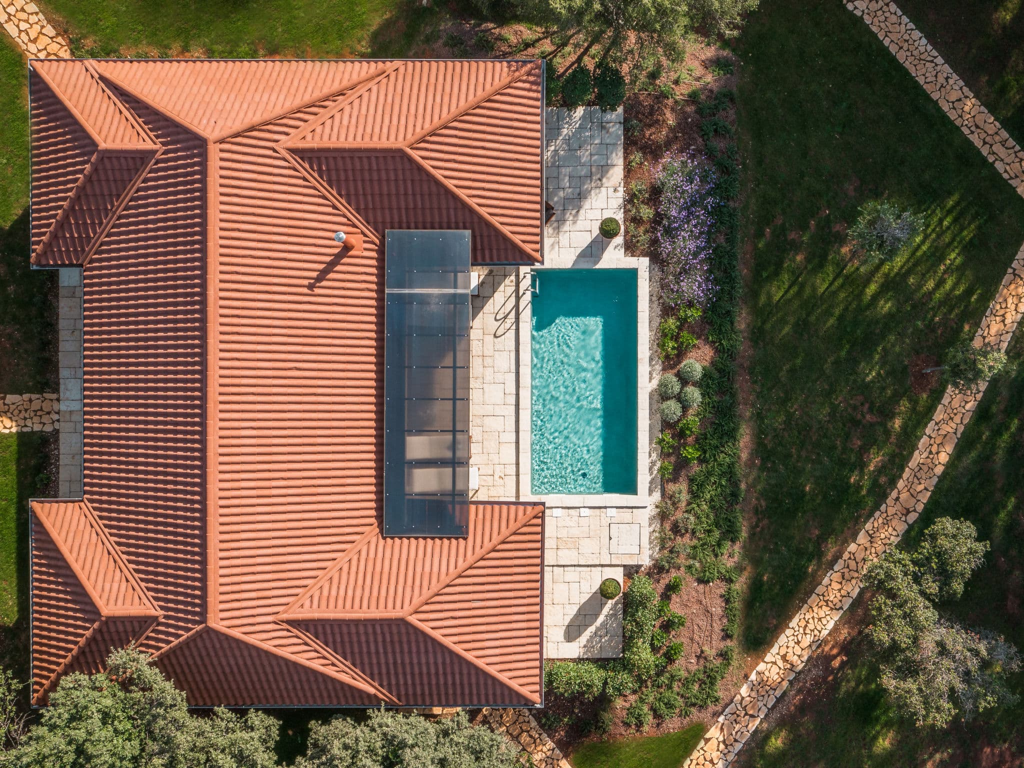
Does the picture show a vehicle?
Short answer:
No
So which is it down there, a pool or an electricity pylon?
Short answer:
pool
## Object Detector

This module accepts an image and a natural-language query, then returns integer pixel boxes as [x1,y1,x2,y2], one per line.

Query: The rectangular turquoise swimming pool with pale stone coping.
[520,258,649,506]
